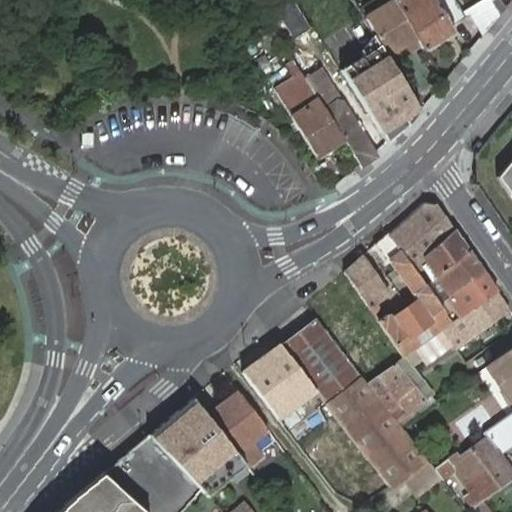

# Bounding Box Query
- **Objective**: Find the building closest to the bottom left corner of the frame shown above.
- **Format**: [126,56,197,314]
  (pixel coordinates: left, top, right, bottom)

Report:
[64,474,145,512]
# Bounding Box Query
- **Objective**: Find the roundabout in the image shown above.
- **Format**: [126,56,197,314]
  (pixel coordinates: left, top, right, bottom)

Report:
[78,187,260,368]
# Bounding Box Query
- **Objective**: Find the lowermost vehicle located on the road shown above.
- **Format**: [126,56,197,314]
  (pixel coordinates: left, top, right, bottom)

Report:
[52,434,72,456]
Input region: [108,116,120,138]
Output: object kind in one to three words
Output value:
vehicle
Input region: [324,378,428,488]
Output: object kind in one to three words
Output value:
house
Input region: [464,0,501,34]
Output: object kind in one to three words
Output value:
building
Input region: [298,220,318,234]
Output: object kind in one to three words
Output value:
car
